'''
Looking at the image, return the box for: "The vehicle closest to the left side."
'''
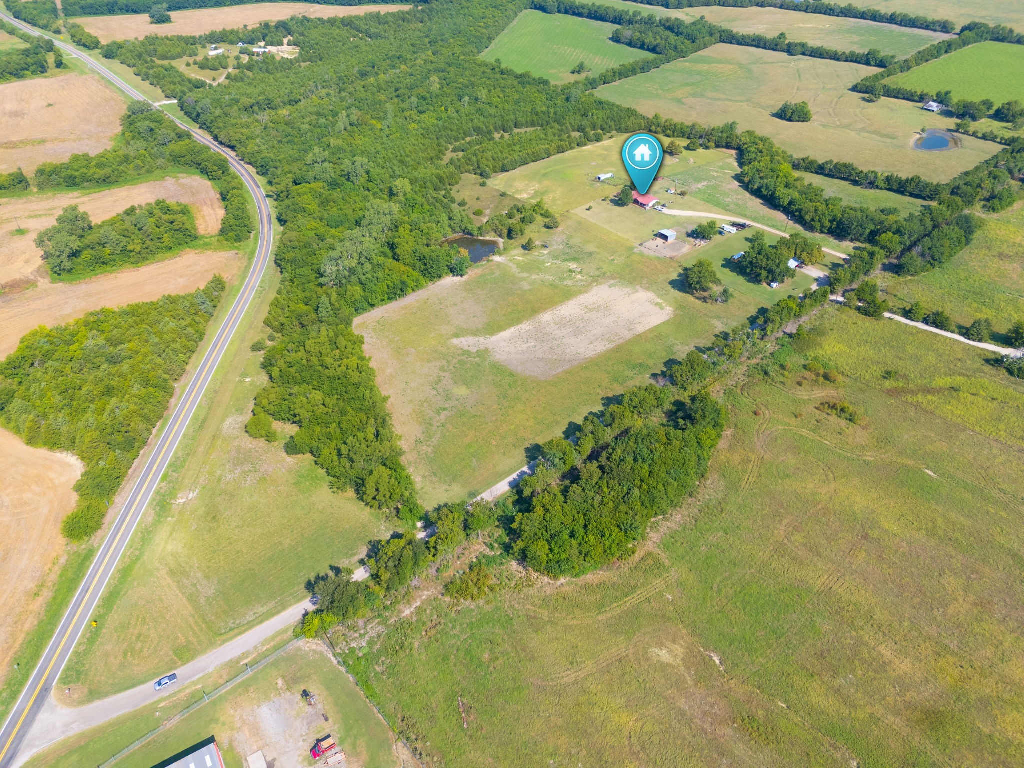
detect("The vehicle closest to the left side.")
[155,671,178,688]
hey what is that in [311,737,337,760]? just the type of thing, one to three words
truck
